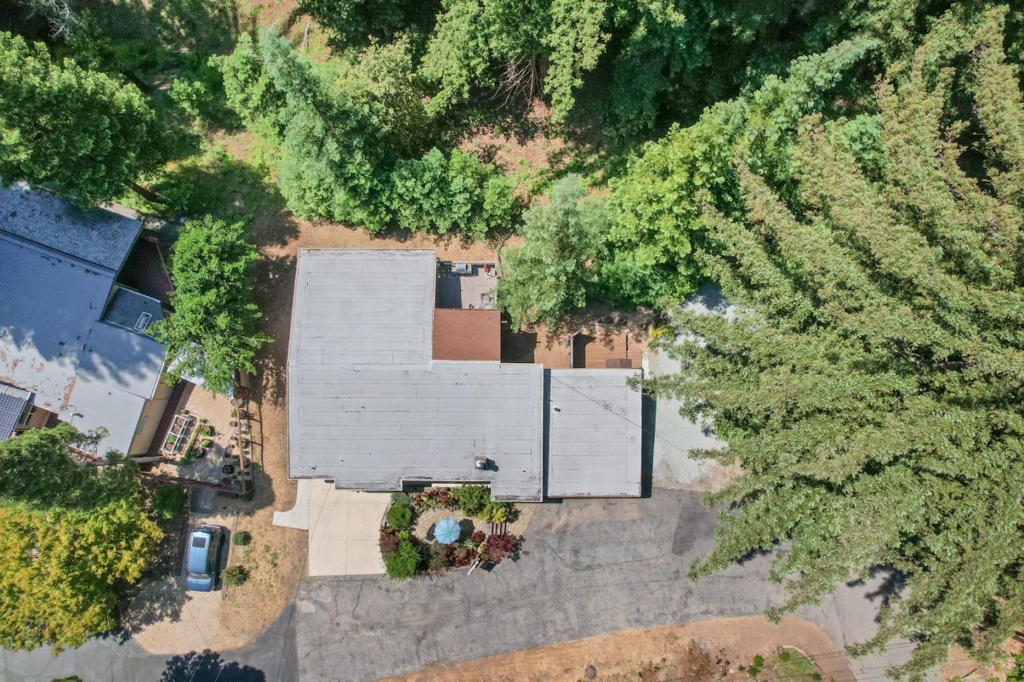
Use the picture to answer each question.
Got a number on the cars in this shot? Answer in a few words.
one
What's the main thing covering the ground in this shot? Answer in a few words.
trees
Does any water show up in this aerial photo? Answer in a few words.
No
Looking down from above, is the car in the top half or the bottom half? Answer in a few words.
bottom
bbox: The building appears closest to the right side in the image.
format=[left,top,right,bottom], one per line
[547,368,642,498]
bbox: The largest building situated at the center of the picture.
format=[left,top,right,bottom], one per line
[286,248,543,503]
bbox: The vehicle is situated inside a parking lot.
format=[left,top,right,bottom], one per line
[184,524,221,590]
